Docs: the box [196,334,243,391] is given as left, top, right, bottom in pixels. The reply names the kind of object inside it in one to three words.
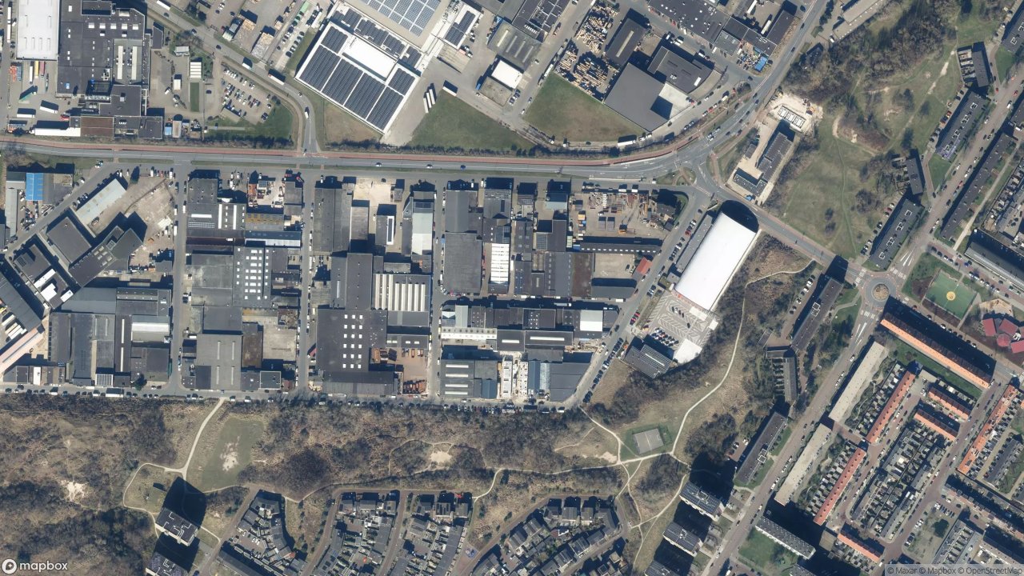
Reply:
building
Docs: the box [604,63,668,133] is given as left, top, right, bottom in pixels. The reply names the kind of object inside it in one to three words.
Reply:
building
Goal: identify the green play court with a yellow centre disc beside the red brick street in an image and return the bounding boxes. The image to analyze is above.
[925,269,976,319]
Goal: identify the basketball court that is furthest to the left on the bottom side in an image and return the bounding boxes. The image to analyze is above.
[632,428,664,453]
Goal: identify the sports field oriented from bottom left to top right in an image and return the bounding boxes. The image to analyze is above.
[201,418,263,489]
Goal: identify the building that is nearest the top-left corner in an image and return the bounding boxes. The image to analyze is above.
[16,0,61,61]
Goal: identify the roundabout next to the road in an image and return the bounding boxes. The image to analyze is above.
[860,272,898,310]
